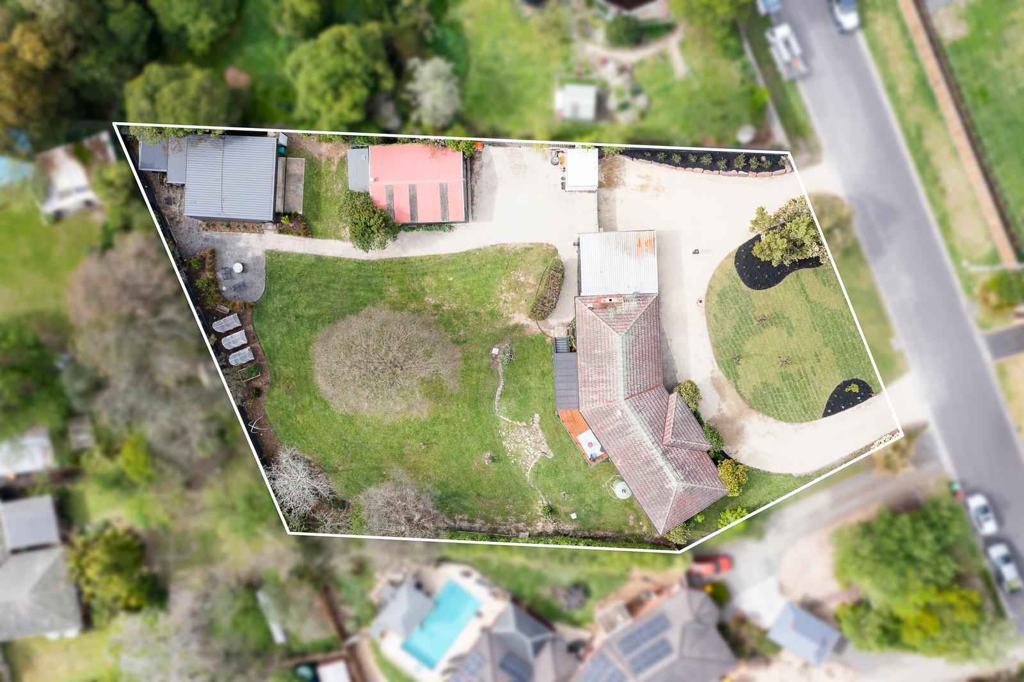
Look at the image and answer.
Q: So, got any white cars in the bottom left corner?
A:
No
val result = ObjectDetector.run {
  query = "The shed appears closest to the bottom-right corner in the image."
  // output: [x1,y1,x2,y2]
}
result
[761,595,840,667]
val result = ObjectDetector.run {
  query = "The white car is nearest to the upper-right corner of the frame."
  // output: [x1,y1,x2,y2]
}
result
[828,0,862,35]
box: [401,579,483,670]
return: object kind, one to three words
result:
swimming pool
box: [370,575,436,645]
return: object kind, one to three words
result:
building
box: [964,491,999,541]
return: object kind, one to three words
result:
car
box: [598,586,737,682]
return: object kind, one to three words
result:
house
